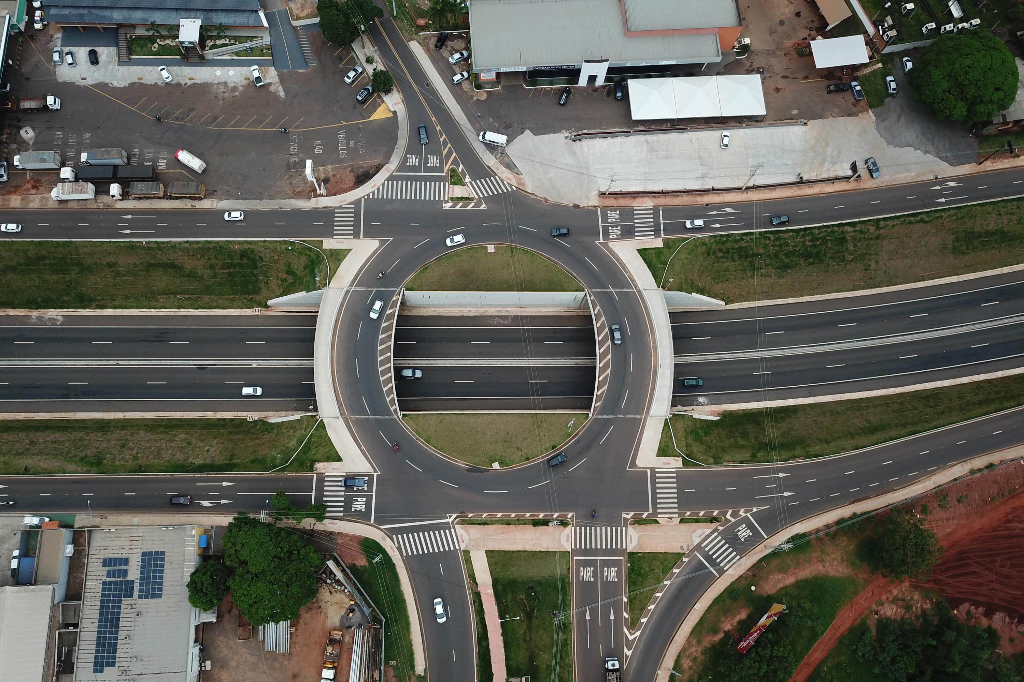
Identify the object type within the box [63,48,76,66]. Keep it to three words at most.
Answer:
vehicle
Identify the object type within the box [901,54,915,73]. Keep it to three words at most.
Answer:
car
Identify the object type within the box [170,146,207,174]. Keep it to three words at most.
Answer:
vehicle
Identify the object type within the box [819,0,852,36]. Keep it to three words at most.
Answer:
shed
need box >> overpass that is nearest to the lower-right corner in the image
[585,285,675,417]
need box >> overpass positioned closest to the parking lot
[312,287,404,417]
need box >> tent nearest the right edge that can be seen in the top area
[716,74,766,121]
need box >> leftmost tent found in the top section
[625,77,677,126]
